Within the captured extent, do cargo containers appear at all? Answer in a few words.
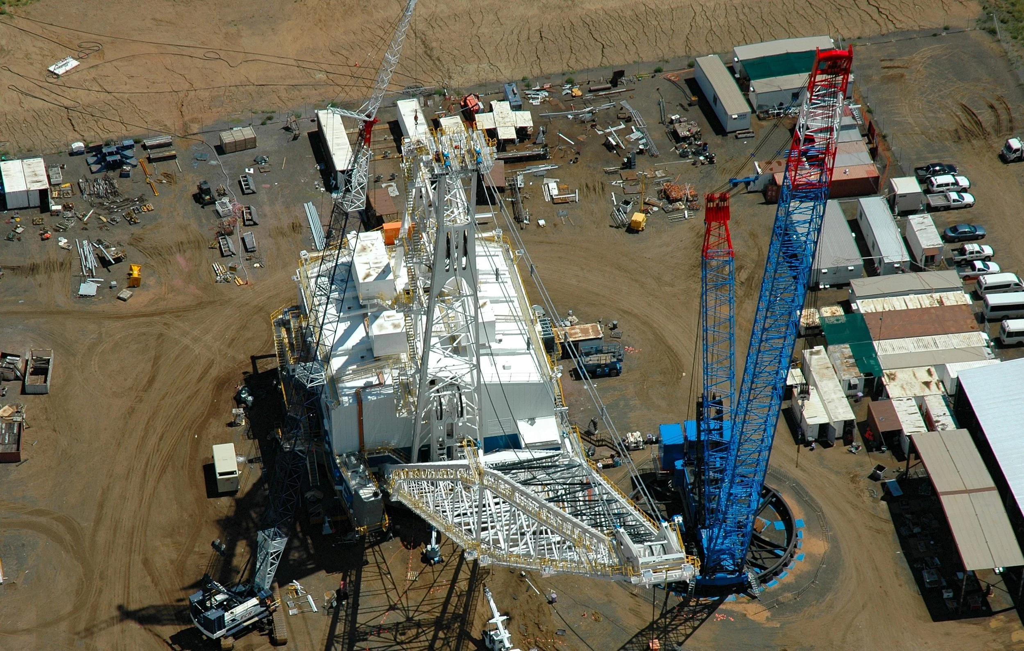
Yes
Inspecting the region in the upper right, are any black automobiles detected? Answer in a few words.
Yes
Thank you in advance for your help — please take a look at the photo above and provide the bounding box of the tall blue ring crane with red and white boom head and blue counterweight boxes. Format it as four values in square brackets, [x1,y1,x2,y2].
[621,46,861,620]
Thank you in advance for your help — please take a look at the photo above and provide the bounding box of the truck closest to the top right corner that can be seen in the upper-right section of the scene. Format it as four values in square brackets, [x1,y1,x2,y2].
[1002,136,1024,161]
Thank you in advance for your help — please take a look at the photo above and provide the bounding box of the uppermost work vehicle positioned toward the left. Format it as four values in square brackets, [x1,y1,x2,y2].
[195,177,219,208]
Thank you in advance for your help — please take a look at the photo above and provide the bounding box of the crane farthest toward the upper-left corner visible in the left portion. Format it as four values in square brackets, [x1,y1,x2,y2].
[185,0,420,648]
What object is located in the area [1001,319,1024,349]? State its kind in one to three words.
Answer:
vehicle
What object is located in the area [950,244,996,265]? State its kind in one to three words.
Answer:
car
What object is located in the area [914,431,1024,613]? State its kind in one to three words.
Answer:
shed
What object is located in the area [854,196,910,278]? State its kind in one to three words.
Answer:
building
